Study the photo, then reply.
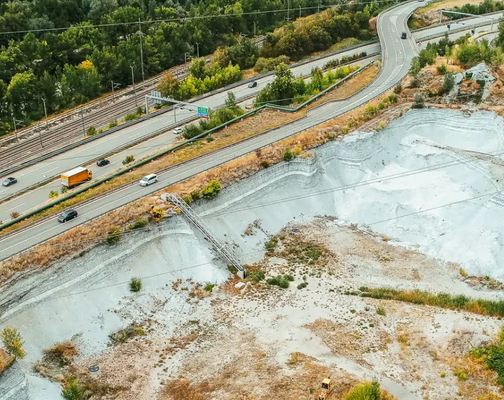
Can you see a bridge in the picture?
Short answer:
Yes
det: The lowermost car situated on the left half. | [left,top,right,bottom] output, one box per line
[56,207,77,221]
